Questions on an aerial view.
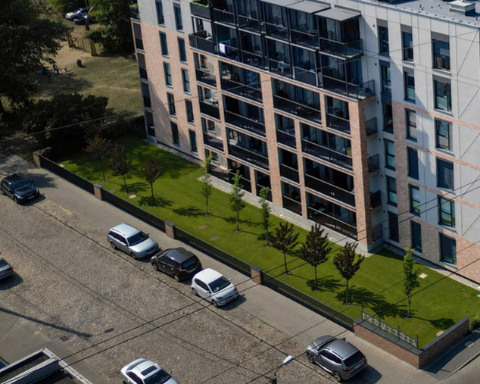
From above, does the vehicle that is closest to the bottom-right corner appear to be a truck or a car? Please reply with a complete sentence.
From above, the vehicle that is closest to the bottom-right corner can be identified as a car.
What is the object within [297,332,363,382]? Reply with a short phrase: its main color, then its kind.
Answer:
gray car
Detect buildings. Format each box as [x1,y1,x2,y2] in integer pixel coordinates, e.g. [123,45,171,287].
[137,0,480,279]
[0,349,91,384]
